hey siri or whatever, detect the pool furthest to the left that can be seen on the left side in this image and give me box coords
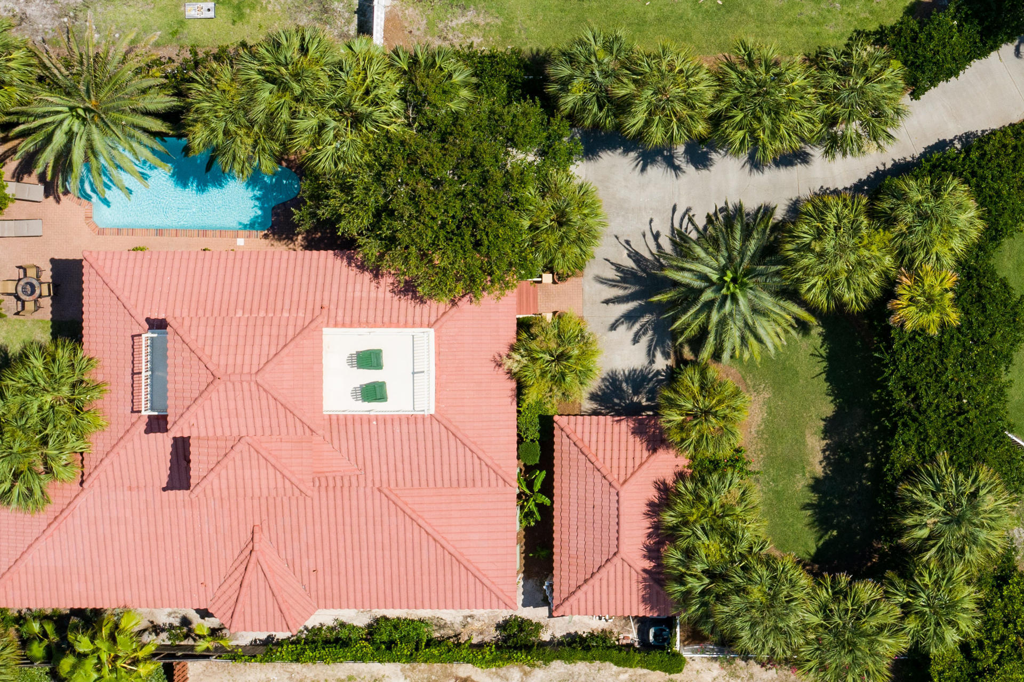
[59,129,307,238]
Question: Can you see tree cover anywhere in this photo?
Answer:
Yes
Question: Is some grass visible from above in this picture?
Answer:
Yes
